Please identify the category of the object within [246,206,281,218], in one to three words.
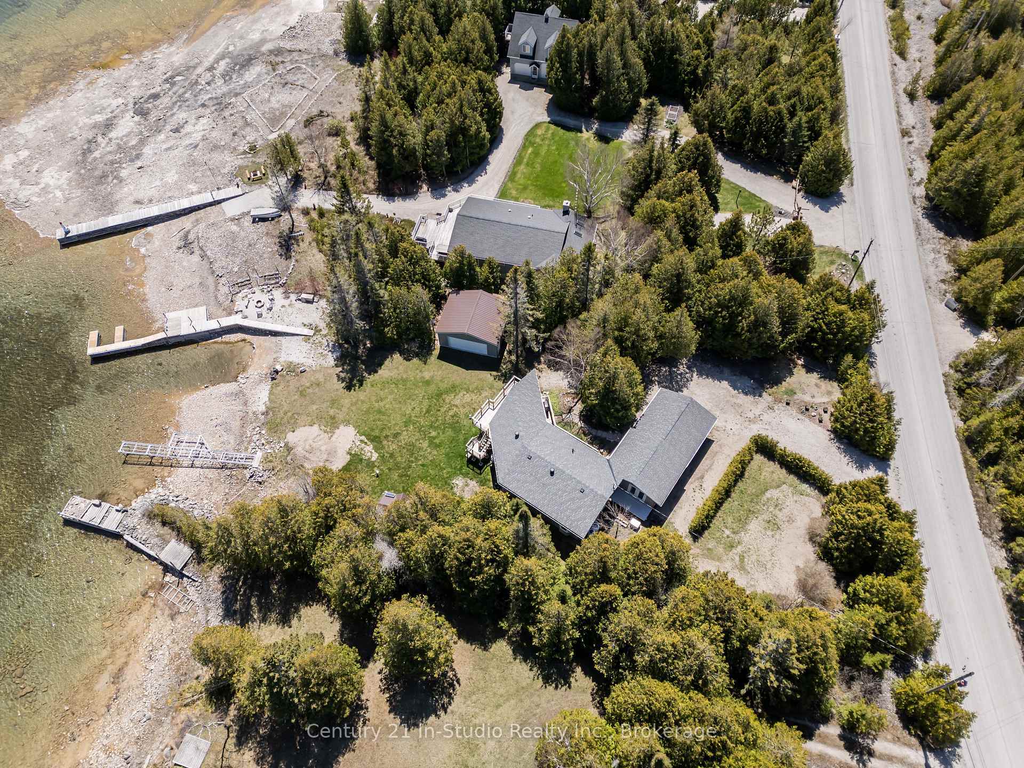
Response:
boat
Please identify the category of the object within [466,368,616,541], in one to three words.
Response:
house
